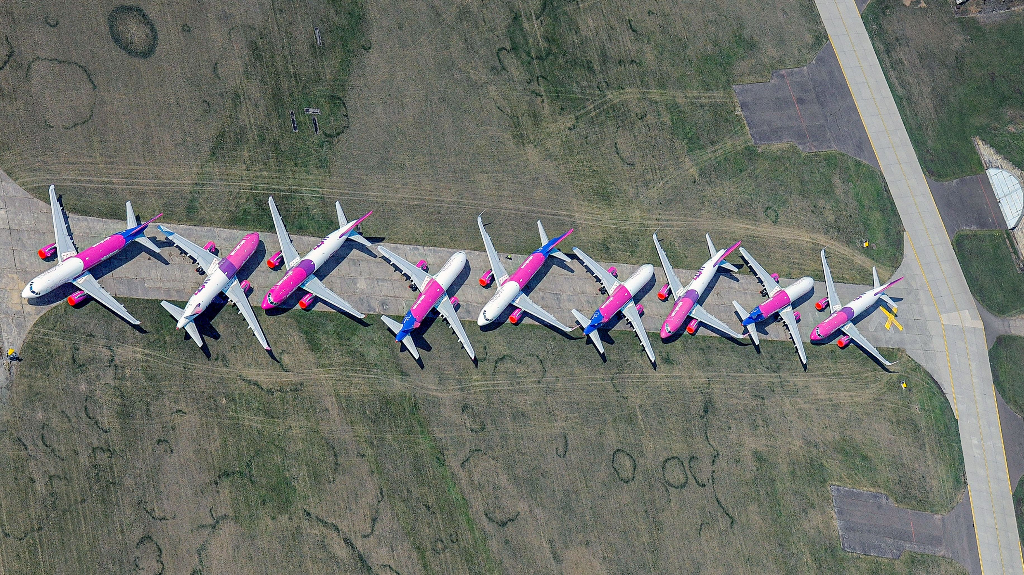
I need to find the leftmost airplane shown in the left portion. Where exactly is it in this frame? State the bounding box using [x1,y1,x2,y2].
[21,184,163,325]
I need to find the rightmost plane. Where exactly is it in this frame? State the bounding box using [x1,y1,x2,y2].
[809,247,903,363]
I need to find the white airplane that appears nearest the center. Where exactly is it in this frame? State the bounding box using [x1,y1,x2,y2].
[477,208,580,329]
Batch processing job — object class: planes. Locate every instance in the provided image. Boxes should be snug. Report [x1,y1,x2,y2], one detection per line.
[158,227,267,348]
[733,247,814,363]
[477,208,580,329]
[261,195,372,318]
[654,225,752,337]
[570,247,656,362]
[21,184,163,325]
[375,246,476,360]
[809,247,903,363]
